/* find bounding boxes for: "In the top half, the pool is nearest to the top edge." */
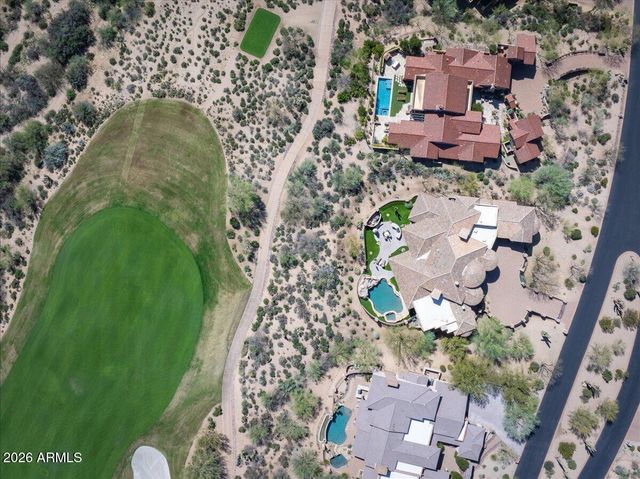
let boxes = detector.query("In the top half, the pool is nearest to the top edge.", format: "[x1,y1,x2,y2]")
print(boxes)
[374,76,392,118]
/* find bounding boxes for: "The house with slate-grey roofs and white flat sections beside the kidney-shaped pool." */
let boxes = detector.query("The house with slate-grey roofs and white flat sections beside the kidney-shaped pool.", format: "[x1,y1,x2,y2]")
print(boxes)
[353,369,486,479]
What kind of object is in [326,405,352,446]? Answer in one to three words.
swimming pool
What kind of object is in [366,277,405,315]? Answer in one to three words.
swimming pool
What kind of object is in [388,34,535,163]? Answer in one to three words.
house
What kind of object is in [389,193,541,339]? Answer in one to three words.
house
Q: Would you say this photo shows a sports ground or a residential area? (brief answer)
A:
residential area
